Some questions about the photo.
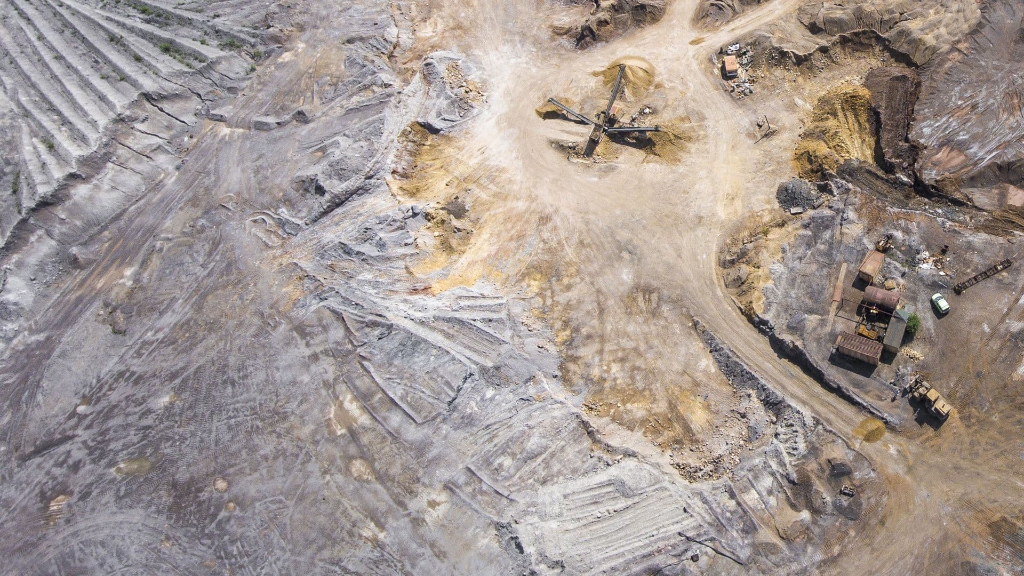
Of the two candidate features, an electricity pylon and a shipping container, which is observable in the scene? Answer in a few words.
shipping container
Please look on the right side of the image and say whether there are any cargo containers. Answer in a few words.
Yes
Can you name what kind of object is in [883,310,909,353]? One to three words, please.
shed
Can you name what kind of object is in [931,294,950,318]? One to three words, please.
car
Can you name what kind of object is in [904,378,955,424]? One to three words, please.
work vehicle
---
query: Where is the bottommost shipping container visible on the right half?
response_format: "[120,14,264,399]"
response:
[839,334,883,366]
